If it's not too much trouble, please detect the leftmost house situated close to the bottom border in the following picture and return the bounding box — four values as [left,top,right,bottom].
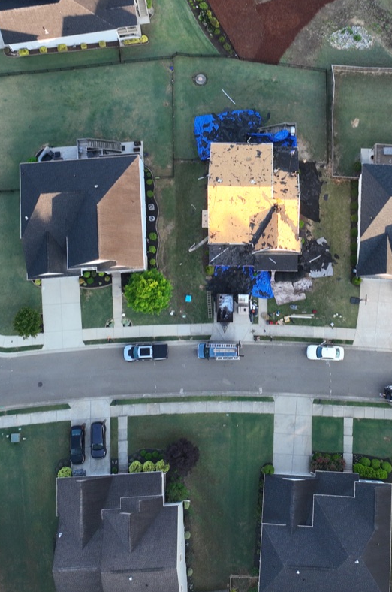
[52,472,183,592]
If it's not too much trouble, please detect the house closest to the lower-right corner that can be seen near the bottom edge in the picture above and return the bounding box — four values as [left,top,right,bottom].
[258,471,392,592]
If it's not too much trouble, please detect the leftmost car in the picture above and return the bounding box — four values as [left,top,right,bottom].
[69,424,87,466]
